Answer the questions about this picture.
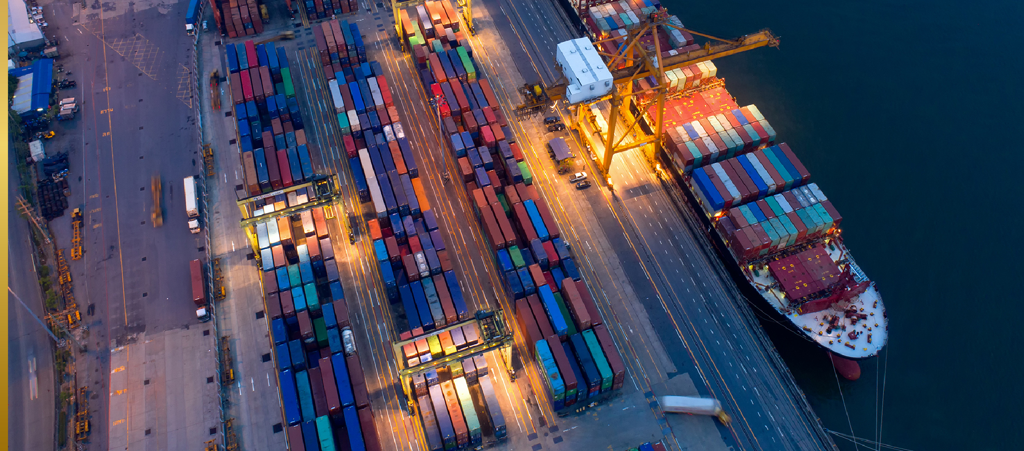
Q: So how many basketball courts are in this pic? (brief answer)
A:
zero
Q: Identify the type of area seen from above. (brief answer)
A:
port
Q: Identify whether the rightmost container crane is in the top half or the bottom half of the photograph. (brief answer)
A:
top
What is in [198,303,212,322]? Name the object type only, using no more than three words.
vehicle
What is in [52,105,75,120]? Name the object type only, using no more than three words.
vehicle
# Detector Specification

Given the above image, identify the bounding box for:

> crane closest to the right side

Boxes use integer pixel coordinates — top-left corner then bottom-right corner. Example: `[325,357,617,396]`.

[507,7,784,181]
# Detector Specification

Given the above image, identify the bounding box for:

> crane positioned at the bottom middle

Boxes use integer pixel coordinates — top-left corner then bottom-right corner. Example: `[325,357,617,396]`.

[386,300,517,418]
